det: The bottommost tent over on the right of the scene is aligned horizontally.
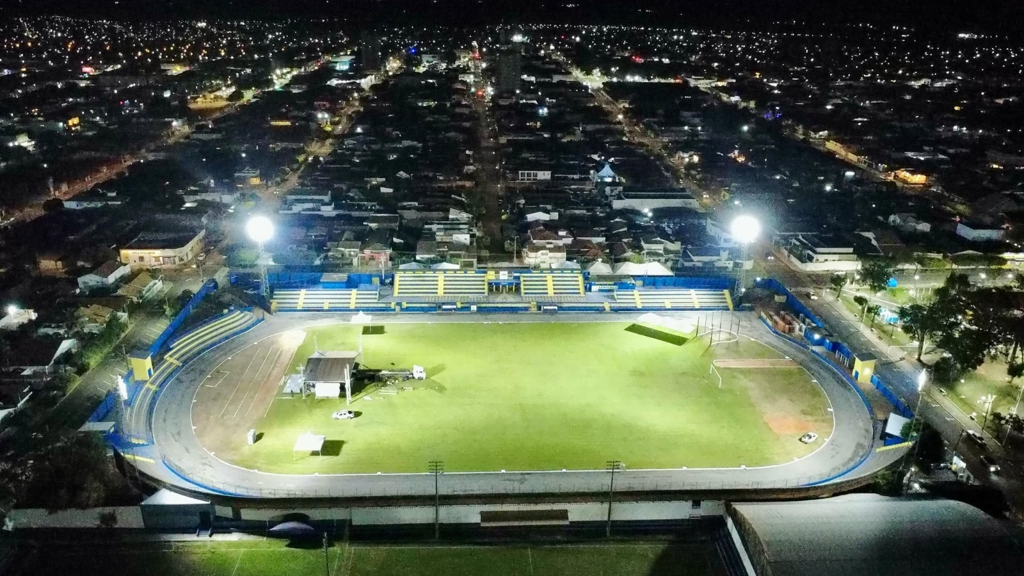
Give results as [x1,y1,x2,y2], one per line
[637,311,701,345]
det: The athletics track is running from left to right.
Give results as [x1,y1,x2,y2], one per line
[153,311,873,499]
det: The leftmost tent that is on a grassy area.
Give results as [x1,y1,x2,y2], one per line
[291,434,326,460]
